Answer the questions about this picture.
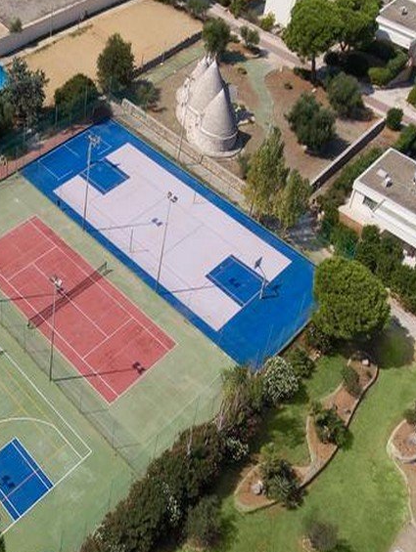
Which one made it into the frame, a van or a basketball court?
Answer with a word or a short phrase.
basketball court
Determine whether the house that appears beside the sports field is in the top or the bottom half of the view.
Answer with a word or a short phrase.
top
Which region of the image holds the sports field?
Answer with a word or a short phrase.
top left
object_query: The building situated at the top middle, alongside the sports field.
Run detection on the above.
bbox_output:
[172,56,236,158]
